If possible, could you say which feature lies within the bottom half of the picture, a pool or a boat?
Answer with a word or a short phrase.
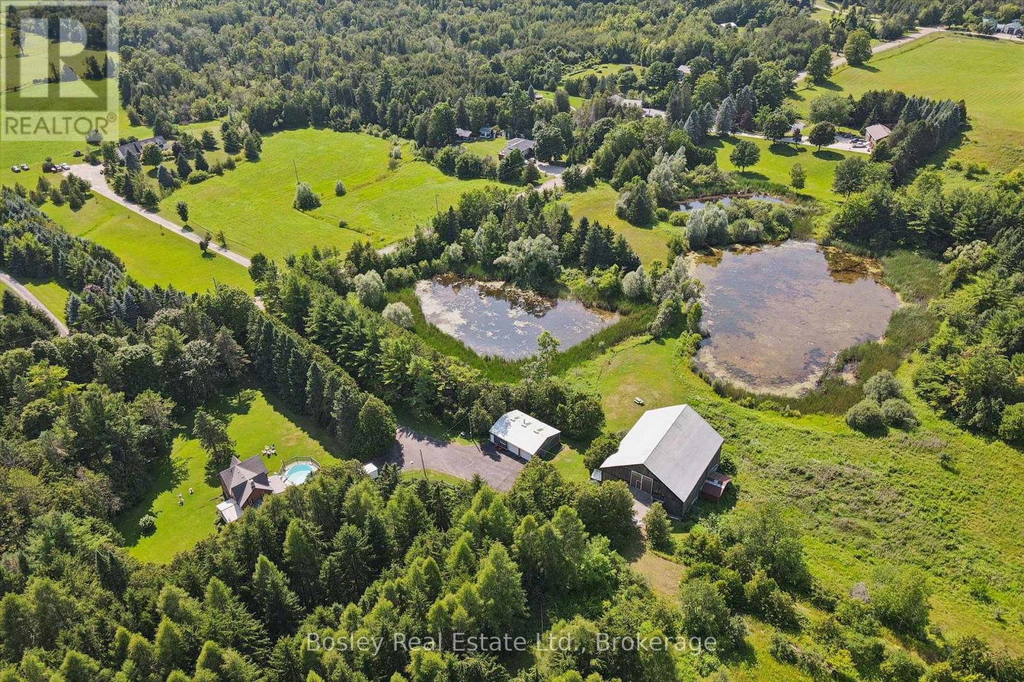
pool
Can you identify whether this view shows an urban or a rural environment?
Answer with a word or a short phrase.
rural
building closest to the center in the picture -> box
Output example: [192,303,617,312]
[489,410,561,459]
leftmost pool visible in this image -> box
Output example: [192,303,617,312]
[278,458,319,492]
